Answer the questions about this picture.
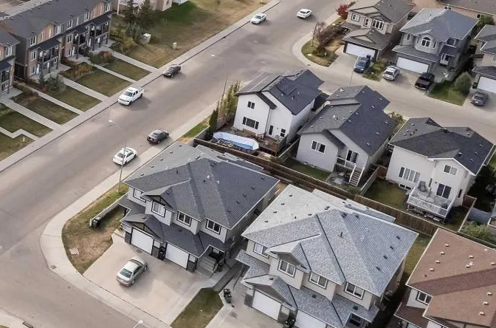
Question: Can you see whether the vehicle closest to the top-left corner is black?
No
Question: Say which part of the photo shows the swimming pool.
center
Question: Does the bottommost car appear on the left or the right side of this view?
left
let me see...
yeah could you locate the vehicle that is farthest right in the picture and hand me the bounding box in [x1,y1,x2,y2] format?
[468,88,489,104]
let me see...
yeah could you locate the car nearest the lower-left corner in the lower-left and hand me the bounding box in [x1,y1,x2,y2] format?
[113,253,151,285]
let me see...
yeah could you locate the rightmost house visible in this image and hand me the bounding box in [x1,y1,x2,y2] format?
[465,22,496,94]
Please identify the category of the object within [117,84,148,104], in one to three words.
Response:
vehicle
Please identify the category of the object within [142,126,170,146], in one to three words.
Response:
car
